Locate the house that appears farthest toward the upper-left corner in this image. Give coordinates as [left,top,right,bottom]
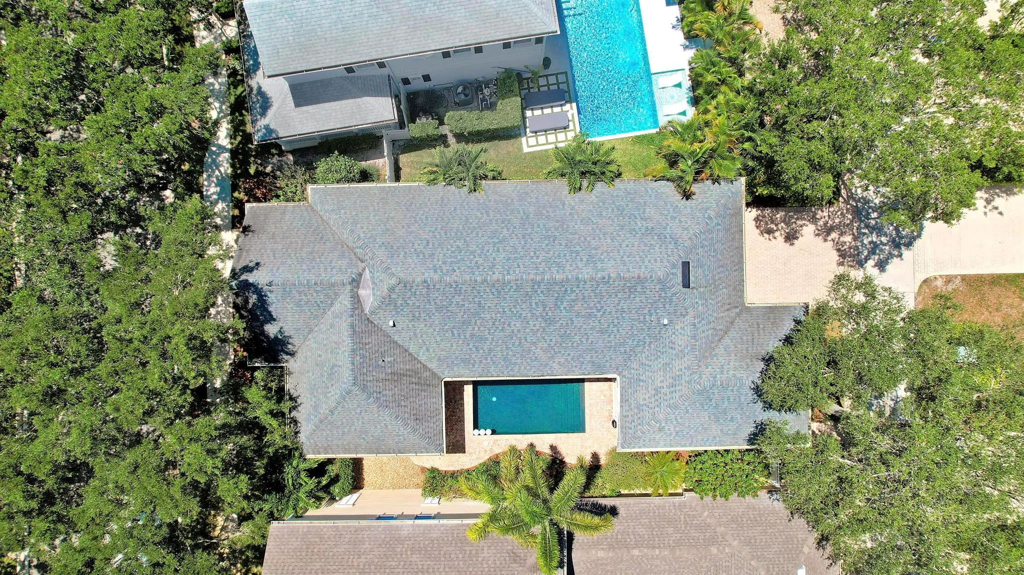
[229,0,562,152]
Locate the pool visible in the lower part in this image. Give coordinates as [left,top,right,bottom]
[473,380,584,435]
